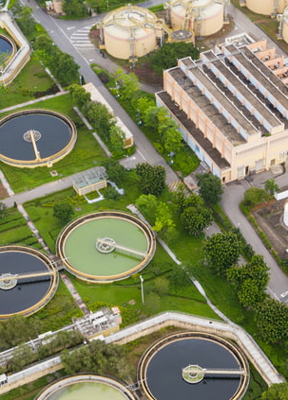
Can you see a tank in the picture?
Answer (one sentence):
Yes, the photo shows a tank.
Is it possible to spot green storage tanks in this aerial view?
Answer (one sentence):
Yes, the photo shows a green storage tank.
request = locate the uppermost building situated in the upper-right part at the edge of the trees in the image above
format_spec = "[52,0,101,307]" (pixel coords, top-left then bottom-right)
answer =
[153,33,288,182]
